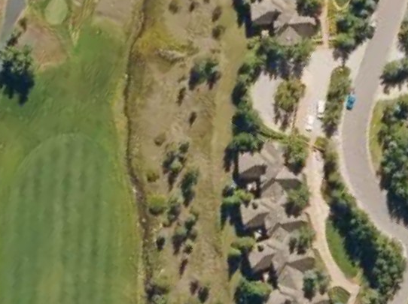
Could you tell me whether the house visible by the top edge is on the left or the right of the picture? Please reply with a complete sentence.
You can find the house visible by the top edge on the right side of the picture.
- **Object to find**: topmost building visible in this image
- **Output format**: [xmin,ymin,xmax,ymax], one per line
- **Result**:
[250,0,320,43]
